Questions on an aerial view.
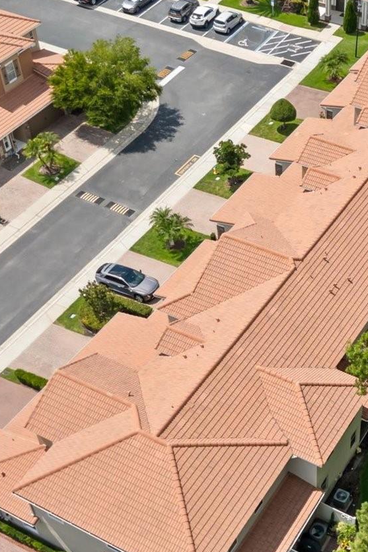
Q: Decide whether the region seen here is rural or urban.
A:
urban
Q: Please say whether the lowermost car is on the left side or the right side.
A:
left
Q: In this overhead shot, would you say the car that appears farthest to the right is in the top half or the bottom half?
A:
top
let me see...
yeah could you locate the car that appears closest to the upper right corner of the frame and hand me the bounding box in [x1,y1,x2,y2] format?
[210,12,240,33]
